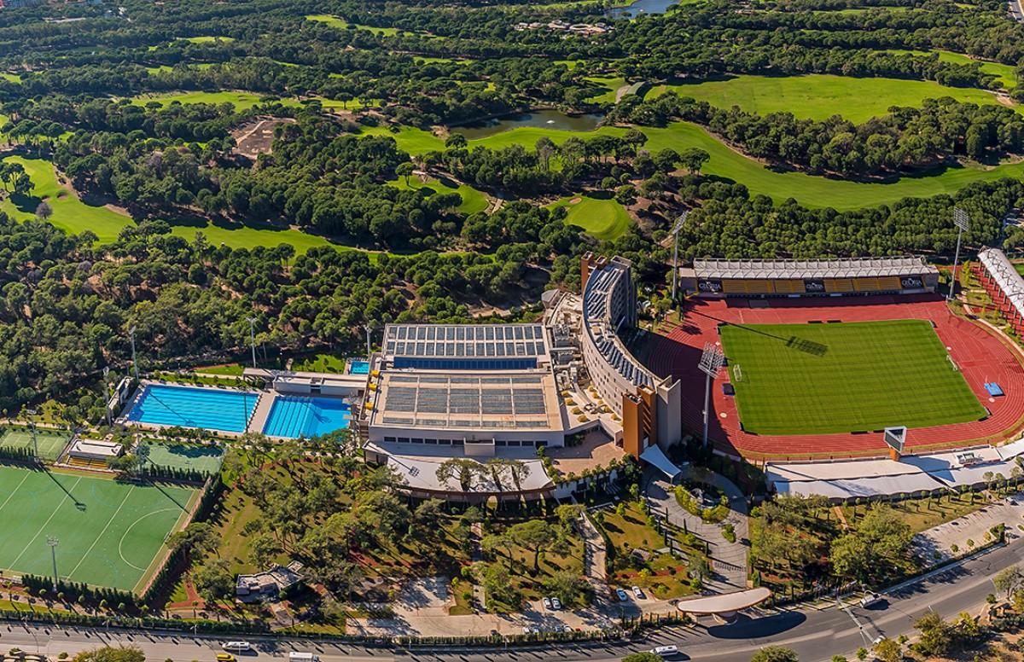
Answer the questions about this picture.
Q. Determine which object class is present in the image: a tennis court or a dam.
tennis court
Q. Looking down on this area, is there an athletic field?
Yes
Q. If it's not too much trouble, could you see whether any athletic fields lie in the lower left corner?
Yes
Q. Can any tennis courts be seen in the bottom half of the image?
Yes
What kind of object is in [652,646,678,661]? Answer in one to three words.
vehicle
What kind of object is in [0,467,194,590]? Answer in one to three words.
sports field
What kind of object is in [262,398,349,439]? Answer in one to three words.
swimming pool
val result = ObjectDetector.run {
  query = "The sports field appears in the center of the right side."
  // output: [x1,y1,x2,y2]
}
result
[720,319,989,433]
